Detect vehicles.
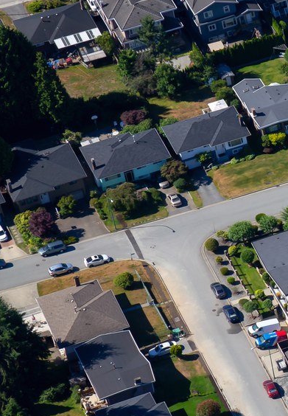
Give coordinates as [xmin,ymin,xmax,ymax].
[263,379,281,400]
[0,222,9,243]
[46,264,75,279]
[156,177,172,194]
[249,313,281,338]
[85,0,99,10]
[0,258,10,267]
[222,305,240,324]
[256,325,288,349]
[37,237,68,258]
[167,191,183,210]
[147,342,173,358]
[83,254,112,268]
[210,281,227,301]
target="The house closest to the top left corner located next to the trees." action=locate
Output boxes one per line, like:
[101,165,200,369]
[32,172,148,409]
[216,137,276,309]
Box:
[16,1,107,69]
